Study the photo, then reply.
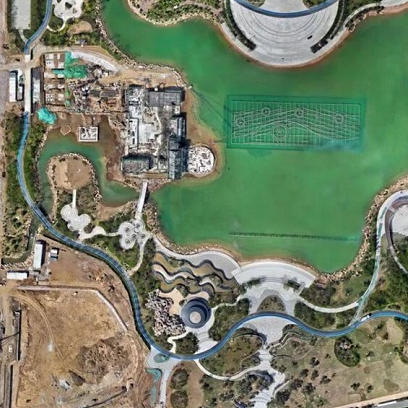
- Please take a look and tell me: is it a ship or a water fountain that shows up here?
water fountain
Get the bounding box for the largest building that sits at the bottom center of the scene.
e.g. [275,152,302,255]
[181,298,211,328]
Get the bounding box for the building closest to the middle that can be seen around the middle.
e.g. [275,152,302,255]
[169,150,186,180]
